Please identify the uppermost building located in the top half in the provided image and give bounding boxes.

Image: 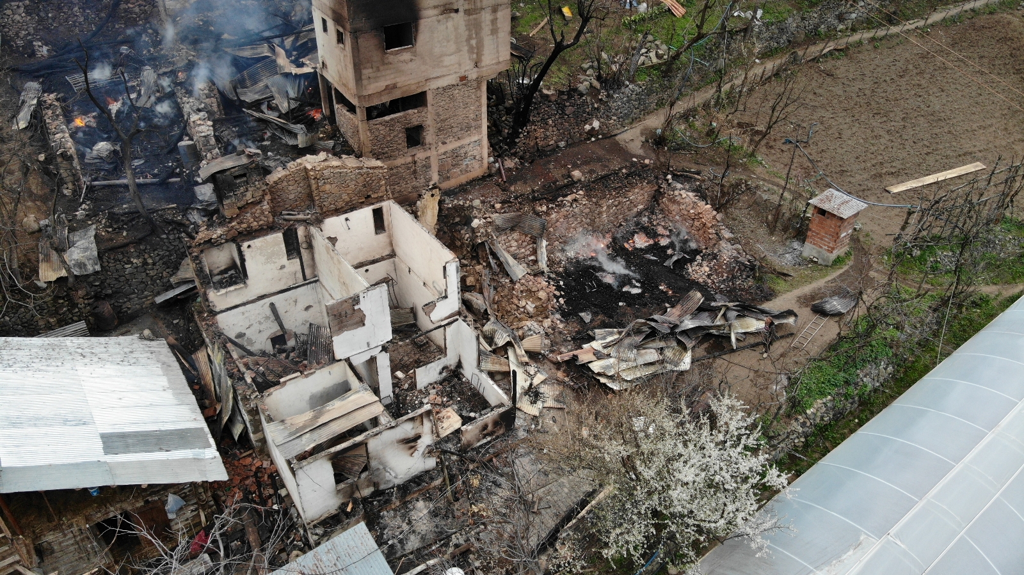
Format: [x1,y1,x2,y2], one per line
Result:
[310,0,511,190]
